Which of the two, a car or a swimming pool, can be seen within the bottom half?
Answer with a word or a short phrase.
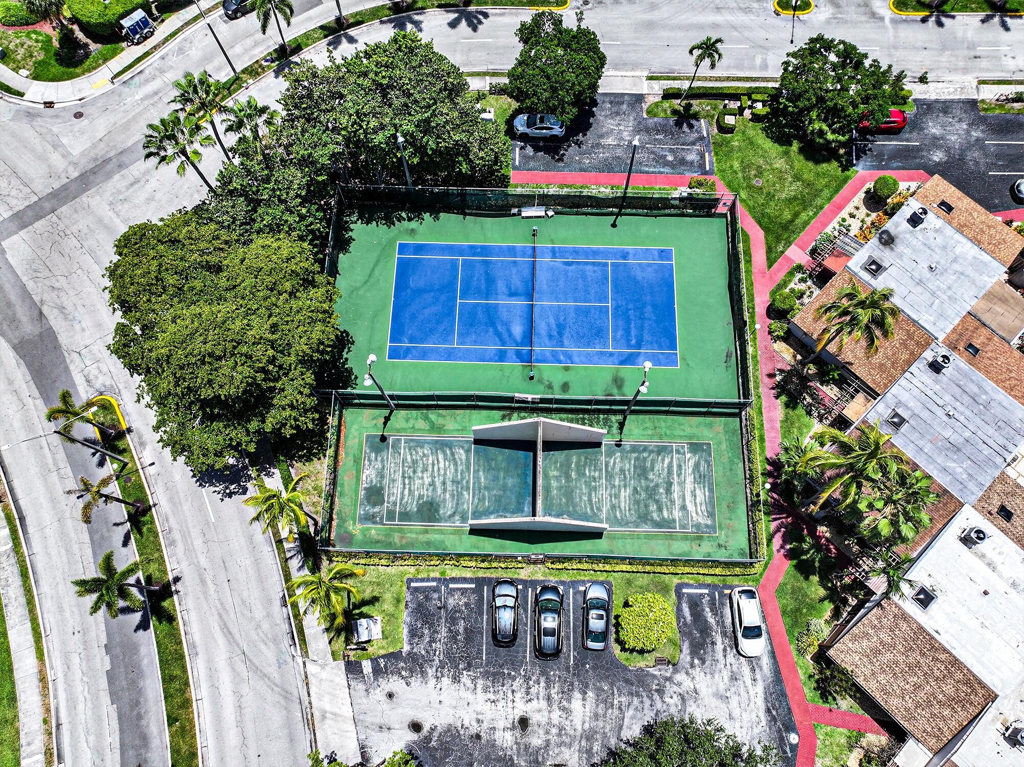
car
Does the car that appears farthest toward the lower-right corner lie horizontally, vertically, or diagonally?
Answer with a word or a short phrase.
vertically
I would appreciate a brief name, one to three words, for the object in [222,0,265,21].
car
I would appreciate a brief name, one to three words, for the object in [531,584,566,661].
car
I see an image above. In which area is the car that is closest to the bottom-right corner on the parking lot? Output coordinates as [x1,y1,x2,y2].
[730,586,769,658]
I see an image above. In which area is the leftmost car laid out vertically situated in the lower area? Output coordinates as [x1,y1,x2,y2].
[487,579,521,647]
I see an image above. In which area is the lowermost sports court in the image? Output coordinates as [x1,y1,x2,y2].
[332,403,751,563]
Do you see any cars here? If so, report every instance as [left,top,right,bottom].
[487,579,521,647]
[1008,181,1024,205]
[581,582,614,653]
[730,586,769,658]
[222,0,265,21]
[531,584,566,661]
[854,107,909,135]
[514,113,565,140]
